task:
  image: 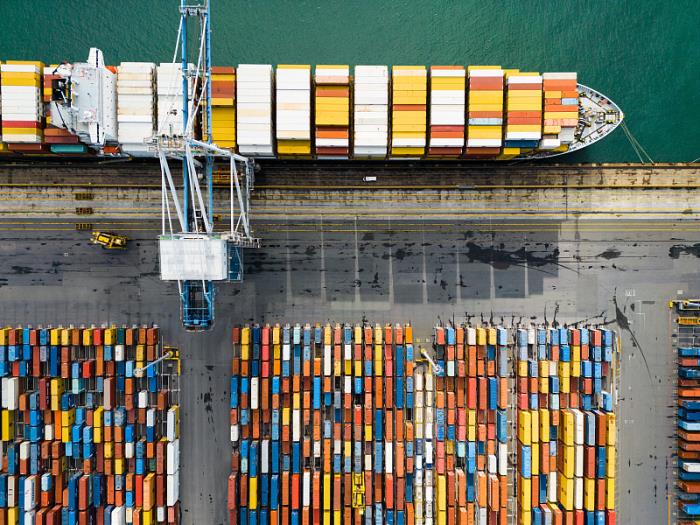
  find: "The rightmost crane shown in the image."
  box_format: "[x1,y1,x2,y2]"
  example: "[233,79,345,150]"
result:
[145,0,267,329]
